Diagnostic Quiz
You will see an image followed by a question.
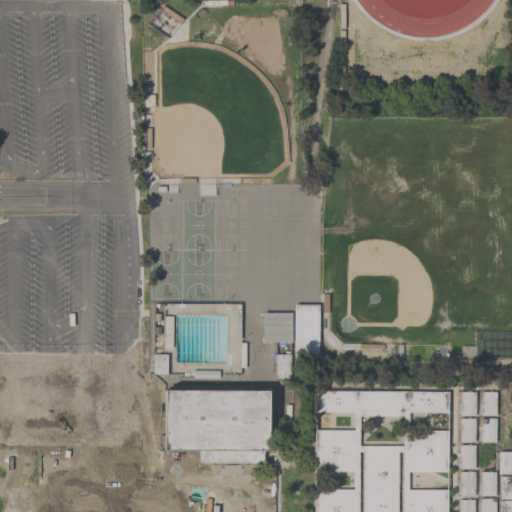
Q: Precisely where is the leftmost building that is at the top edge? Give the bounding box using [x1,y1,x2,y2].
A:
[150,0,187,38]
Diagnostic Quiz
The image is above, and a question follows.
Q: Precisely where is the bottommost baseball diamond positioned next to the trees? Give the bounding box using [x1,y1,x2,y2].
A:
[341,239,432,332]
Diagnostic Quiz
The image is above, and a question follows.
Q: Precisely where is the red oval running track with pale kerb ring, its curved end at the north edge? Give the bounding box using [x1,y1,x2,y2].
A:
[353,0,499,40]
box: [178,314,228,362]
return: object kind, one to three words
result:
swimming pool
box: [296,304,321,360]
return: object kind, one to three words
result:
building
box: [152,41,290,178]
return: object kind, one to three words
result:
baseball field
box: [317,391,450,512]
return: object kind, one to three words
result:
building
